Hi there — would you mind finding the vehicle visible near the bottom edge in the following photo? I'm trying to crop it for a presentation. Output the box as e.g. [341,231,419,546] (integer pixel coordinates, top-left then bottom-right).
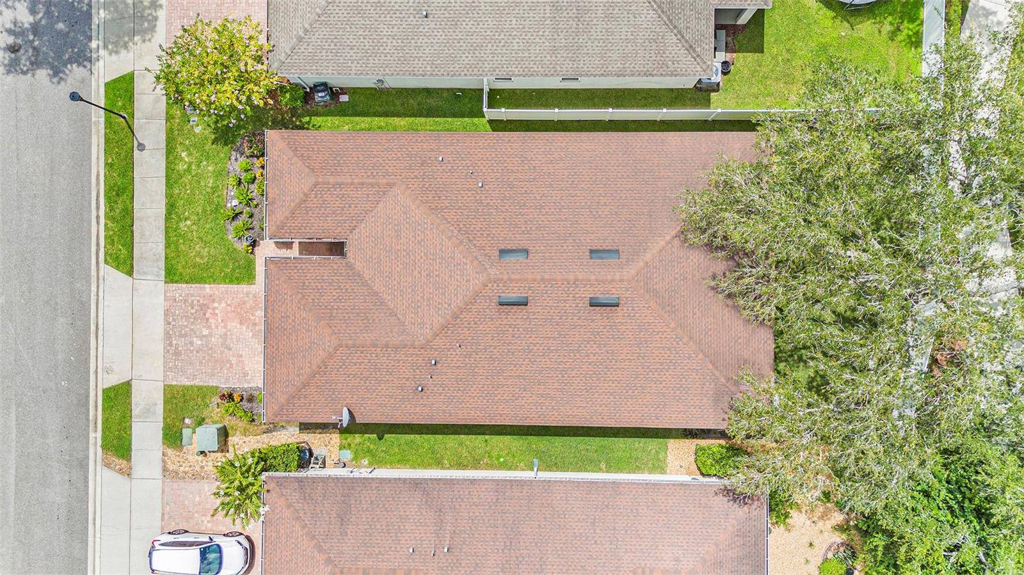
[149,528,254,575]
